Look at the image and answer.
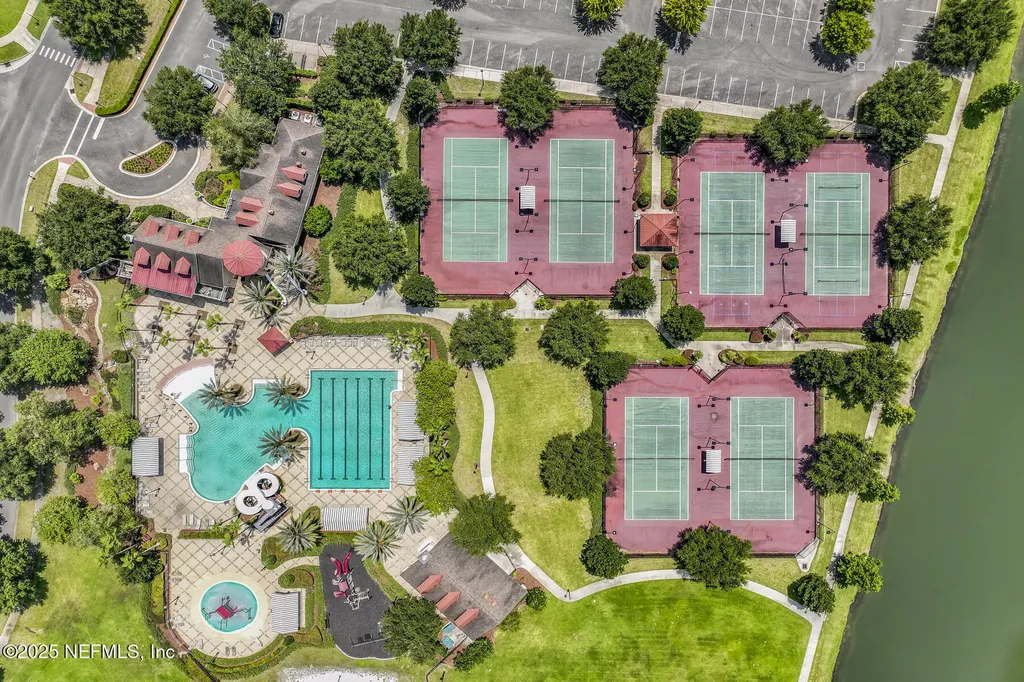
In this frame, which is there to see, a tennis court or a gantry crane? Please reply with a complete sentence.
I can see a tennis court in this picture.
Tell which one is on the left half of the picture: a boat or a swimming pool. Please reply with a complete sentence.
The feature located on the left half of the picture is a swimming pool.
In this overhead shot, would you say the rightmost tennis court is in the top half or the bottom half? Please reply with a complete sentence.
The rightmost tennis court sits in the top half of the picture.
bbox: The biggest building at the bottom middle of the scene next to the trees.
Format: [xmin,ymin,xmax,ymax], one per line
[401,532,527,640]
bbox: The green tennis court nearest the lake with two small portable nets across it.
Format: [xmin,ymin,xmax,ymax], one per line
[785,141,889,328]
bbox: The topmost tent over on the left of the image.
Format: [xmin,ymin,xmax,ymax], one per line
[258,326,294,356]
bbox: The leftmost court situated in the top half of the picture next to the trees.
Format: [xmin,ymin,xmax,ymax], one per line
[421,108,528,295]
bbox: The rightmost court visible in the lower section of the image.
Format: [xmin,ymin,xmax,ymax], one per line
[710,366,816,554]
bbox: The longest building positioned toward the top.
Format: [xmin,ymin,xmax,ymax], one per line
[111,117,327,302]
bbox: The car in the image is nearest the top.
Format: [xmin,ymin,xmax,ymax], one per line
[269,9,283,37]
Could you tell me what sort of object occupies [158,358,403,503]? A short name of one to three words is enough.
swimming pool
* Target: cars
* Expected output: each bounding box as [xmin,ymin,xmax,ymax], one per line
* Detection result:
[269,9,283,37]
[192,67,218,92]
